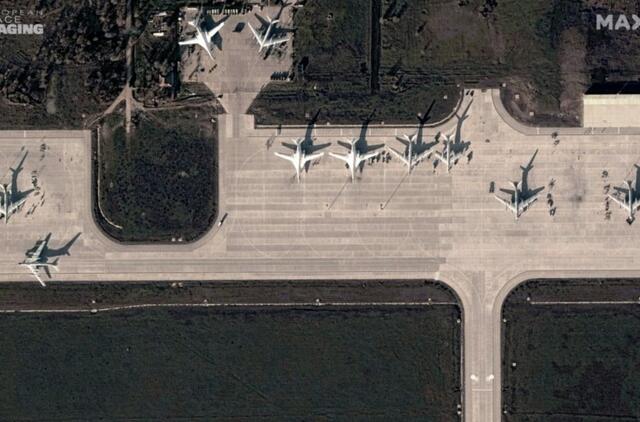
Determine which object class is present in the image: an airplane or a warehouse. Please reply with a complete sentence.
There is an airplane in the scene.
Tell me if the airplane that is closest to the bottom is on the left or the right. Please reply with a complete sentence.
The airplane that is closest to the bottom appears in the left half of the scene.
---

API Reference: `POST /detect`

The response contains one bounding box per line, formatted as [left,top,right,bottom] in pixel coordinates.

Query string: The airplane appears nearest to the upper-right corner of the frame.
[609,179,640,221]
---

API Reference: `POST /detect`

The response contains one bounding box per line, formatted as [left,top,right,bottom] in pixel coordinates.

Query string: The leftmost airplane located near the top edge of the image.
[179,16,223,59]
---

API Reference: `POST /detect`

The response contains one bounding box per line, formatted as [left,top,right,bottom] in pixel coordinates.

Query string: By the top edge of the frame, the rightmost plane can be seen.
[248,13,290,54]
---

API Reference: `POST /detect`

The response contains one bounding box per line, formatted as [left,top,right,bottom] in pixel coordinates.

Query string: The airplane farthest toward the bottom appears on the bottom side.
[19,242,60,286]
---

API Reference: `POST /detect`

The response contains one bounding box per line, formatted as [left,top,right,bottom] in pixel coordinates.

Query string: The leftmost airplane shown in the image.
[0,181,28,223]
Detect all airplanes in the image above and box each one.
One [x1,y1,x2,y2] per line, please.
[248,13,290,54]
[495,179,539,219]
[19,242,60,286]
[609,179,640,221]
[0,181,28,223]
[329,136,379,183]
[434,131,463,173]
[179,16,223,59]
[388,133,432,174]
[274,136,323,183]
